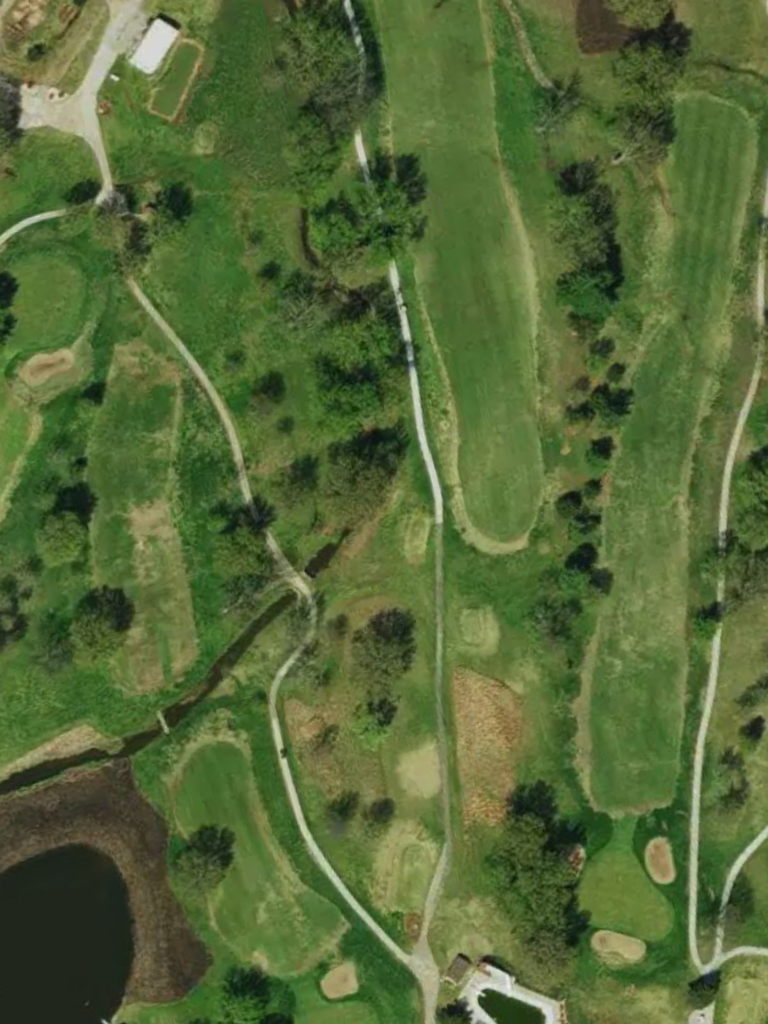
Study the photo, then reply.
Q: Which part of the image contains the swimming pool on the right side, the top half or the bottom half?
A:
bottom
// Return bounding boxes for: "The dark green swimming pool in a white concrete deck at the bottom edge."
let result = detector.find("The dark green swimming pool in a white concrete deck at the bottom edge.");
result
[461,965,564,1024]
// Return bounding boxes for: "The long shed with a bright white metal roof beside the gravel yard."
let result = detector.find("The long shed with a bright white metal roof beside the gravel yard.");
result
[131,16,179,74]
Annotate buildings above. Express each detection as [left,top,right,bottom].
[447,955,472,983]
[131,16,179,74]
[481,965,514,990]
